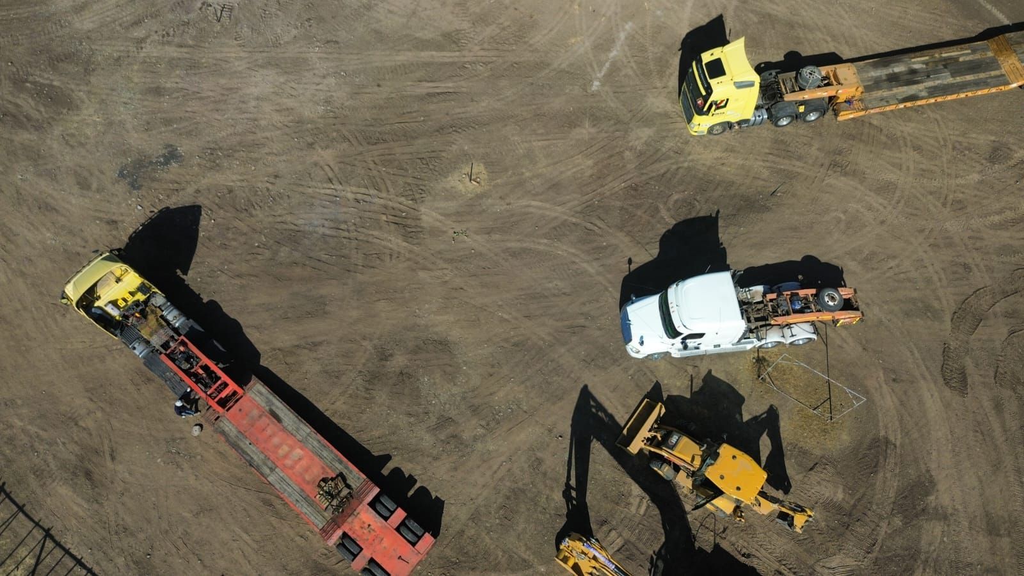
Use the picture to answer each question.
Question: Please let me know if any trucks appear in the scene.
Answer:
Yes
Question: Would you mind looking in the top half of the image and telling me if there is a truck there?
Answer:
Yes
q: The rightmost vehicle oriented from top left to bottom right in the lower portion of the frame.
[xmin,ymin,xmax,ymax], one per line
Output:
[614,397,816,536]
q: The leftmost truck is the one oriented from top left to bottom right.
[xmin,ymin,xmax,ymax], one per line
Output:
[61,246,237,403]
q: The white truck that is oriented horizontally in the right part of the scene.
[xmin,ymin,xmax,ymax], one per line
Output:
[620,262,844,358]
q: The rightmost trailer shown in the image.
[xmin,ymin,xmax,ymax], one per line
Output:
[771,36,1024,114]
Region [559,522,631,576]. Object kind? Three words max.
work vehicle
